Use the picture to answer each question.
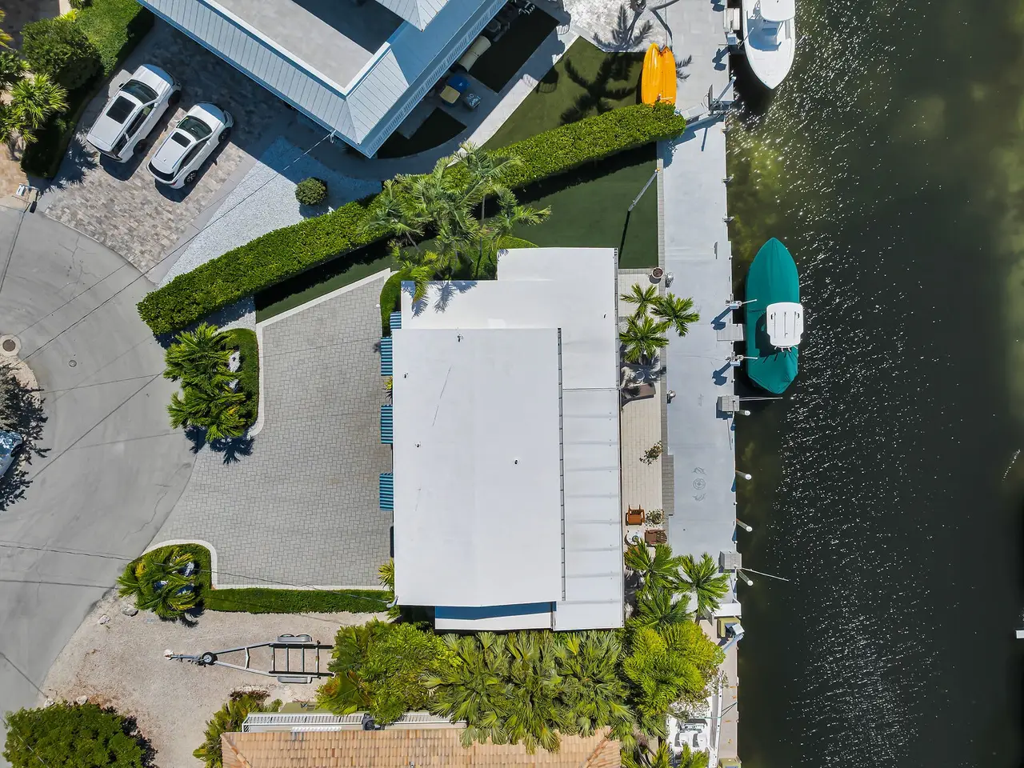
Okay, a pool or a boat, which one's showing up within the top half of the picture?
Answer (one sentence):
Looking within the top half of the picture, you will find a boat.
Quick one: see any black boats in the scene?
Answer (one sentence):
No, I can see no black boat in this picture.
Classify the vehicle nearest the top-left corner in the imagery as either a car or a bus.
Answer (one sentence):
The vehicle nearest the top-left corner in the image is a car.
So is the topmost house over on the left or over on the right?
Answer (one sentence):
The topmost house appears in the left half of the scene.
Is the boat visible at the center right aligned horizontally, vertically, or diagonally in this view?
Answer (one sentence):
Seen from above, the boat visible at the center right lies vertically.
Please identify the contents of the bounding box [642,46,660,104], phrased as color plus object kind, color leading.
orange boat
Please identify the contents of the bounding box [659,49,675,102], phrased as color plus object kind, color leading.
orange boat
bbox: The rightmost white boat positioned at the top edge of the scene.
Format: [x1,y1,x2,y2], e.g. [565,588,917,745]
[741,0,801,87]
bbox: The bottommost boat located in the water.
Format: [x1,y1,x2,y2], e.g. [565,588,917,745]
[744,238,803,393]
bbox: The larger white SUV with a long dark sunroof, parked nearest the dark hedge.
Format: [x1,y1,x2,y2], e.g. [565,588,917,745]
[92,61,183,167]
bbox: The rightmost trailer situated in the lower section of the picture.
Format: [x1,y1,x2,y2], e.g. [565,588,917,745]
[165,634,335,689]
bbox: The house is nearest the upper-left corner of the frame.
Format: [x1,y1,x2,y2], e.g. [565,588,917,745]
[129,0,509,159]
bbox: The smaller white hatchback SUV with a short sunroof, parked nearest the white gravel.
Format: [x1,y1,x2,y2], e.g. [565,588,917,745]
[149,101,233,194]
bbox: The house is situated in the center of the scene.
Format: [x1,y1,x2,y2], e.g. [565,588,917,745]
[380,248,627,631]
